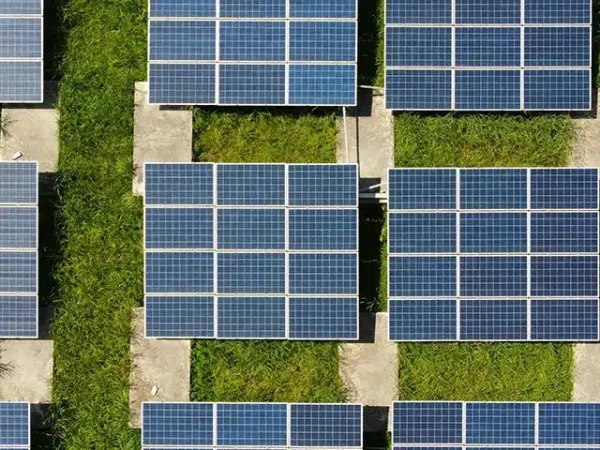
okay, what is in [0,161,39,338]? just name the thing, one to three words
solar array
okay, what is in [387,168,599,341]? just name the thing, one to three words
solar array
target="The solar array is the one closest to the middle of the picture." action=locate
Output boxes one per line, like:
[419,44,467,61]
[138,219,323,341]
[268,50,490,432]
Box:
[144,162,359,339]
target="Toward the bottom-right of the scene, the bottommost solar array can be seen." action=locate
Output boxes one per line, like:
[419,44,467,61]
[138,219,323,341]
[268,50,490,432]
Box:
[391,401,600,450]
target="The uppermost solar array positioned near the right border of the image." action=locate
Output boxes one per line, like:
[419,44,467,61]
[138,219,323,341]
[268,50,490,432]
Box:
[384,0,591,111]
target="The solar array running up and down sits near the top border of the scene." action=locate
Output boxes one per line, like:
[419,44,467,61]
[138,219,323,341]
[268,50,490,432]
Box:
[0,0,45,103]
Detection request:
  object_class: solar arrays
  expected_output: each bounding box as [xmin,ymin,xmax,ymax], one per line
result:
[0,400,31,450]
[148,0,358,106]
[391,401,600,450]
[141,401,363,450]
[384,0,591,111]
[0,161,39,338]
[387,168,599,341]
[144,162,359,339]
[0,0,45,103]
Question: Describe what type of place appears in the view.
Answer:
solar farm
